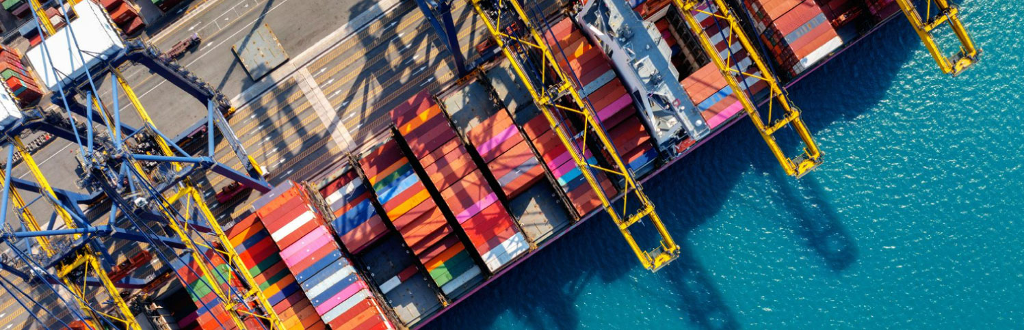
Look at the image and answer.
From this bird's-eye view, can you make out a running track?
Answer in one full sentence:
No, I can see no running track in this picture.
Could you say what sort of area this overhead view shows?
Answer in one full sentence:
This looks like a port.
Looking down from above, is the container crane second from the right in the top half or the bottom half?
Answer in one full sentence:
The container crane second from the right sits in the top half of the picture.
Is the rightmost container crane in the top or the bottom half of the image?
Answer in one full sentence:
The rightmost container crane sits in the top half of the picture.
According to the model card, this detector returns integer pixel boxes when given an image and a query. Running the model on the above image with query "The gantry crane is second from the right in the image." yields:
[676,0,834,183]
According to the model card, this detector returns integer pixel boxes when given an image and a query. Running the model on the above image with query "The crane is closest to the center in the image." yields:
[394,0,688,280]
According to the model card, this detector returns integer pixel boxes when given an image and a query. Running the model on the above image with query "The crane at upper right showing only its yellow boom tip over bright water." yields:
[892,0,987,84]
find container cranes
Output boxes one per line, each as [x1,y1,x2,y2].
[892,0,987,84]
[676,0,834,183]
[0,80,213,330]
[17,0,292,330]
[394,0,688,280]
